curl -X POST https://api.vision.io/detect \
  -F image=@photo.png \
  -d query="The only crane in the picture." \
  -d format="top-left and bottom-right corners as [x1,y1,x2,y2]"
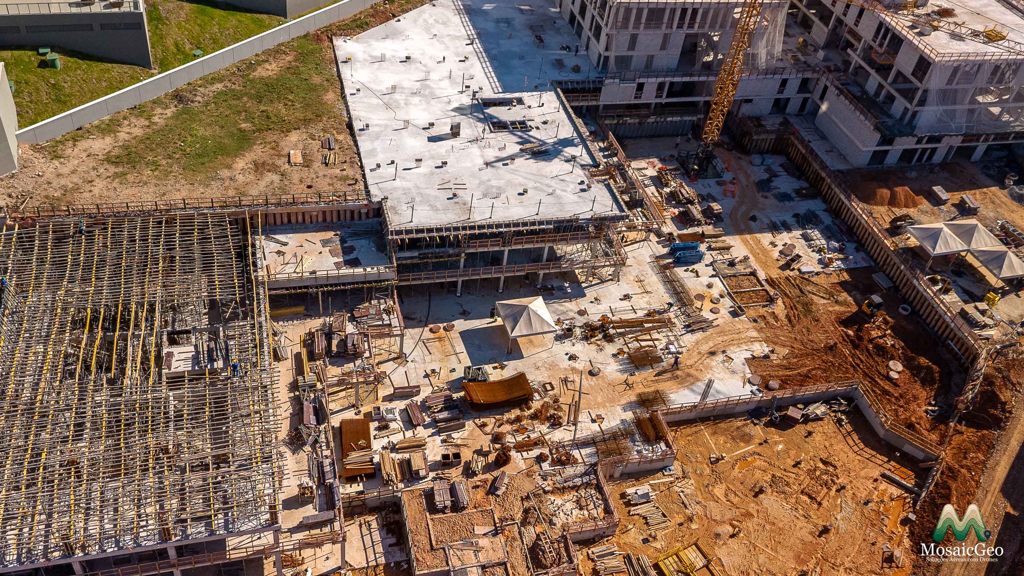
[675,0,772,188]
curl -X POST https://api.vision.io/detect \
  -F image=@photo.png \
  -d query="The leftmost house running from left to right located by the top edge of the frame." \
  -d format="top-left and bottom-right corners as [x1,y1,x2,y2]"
[0,0,158,69]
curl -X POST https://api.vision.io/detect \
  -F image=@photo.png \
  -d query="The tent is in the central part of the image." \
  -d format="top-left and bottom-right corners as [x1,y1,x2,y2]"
[493,295,560,358]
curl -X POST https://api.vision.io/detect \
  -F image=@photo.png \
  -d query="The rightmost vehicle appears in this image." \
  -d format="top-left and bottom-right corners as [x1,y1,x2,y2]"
[856,290,902,326]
